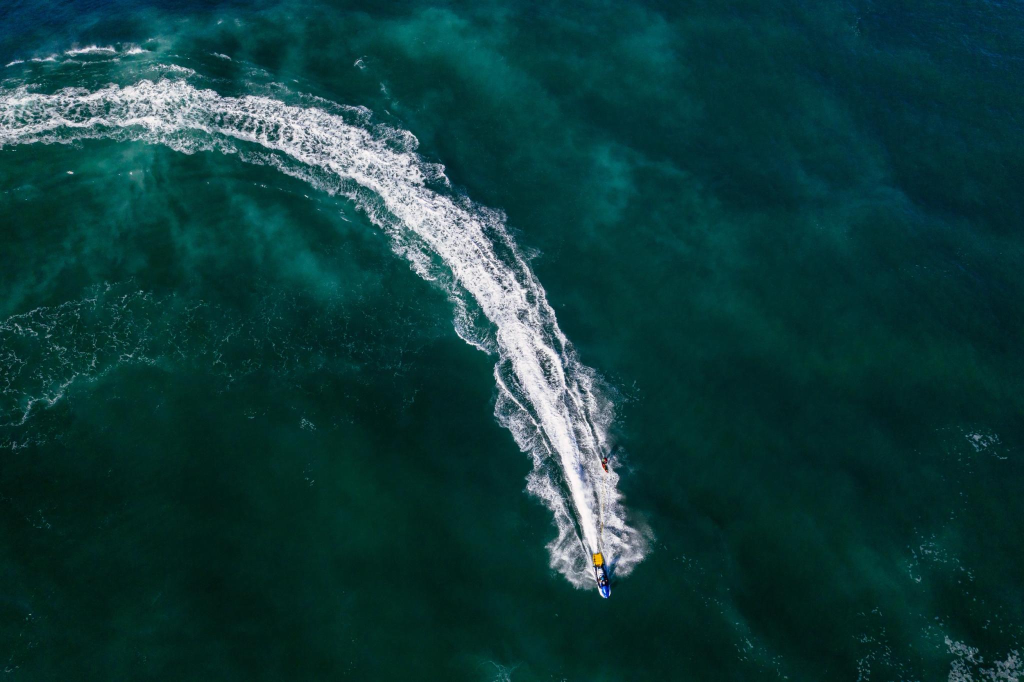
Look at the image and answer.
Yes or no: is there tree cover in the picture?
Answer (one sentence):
No, the picture contains no tree cover.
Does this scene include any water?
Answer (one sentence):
Yes, there is water in the image.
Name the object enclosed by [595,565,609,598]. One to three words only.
boat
